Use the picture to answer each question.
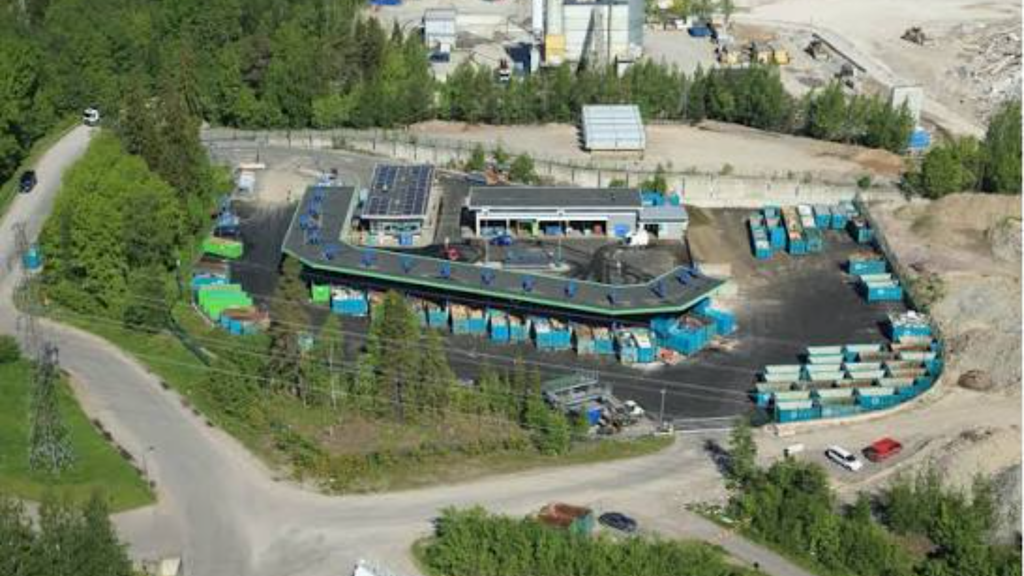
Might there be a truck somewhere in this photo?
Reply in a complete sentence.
Yes, looking at the shot, I can spot a truck.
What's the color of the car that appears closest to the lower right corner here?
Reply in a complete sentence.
The car that appears closest to the lower right corner looks red in the image.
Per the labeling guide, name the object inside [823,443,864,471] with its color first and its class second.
white car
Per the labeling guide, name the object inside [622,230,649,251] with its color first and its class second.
white truck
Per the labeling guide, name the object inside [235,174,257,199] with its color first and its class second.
white truck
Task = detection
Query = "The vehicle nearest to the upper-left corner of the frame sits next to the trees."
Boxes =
[81,108,100,129]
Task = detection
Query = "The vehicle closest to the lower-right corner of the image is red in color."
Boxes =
[864,437,905,464]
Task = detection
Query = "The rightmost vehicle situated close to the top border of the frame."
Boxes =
[892,20,926,45]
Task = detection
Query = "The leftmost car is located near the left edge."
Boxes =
[12,177,39,193]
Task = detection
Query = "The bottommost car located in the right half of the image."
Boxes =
[598,510,640,535]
